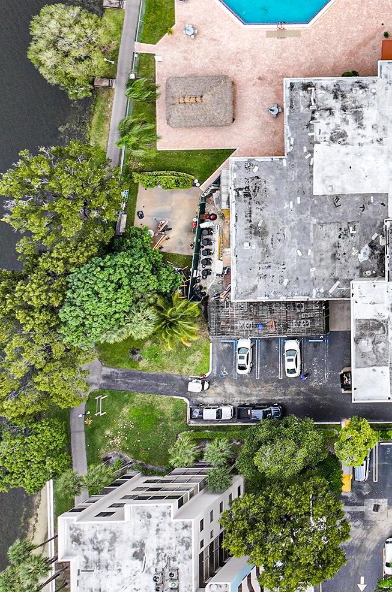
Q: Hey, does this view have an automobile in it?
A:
Yes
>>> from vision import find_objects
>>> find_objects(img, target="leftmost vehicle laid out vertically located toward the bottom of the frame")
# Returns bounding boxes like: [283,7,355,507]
[235,338,254,375]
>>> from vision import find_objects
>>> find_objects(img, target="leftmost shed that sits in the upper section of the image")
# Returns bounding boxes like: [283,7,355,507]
[163,73,236,129]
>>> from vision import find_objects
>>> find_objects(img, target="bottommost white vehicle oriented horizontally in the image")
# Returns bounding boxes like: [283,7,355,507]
[194,404,235,422]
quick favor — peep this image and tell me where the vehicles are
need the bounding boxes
[283,339,302,377]
[235,338,254,375]
[383,537,392,573]
[353,450,370,484]
[194,404,235,422]
[238,403,281,421]
[188,376,214,390]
